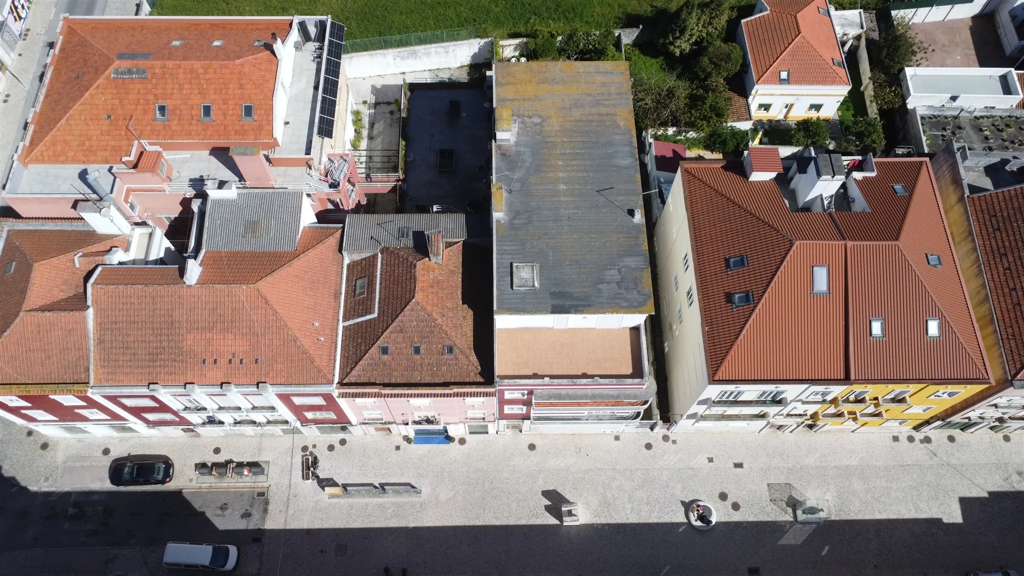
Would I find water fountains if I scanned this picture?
No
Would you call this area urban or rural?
urban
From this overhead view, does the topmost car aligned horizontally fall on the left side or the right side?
left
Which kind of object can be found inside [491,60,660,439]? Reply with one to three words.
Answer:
building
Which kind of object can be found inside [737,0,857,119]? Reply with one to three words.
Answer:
house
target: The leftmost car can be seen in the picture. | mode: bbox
[103,455,173,488]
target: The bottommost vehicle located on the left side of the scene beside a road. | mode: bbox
[153,539,239,576]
